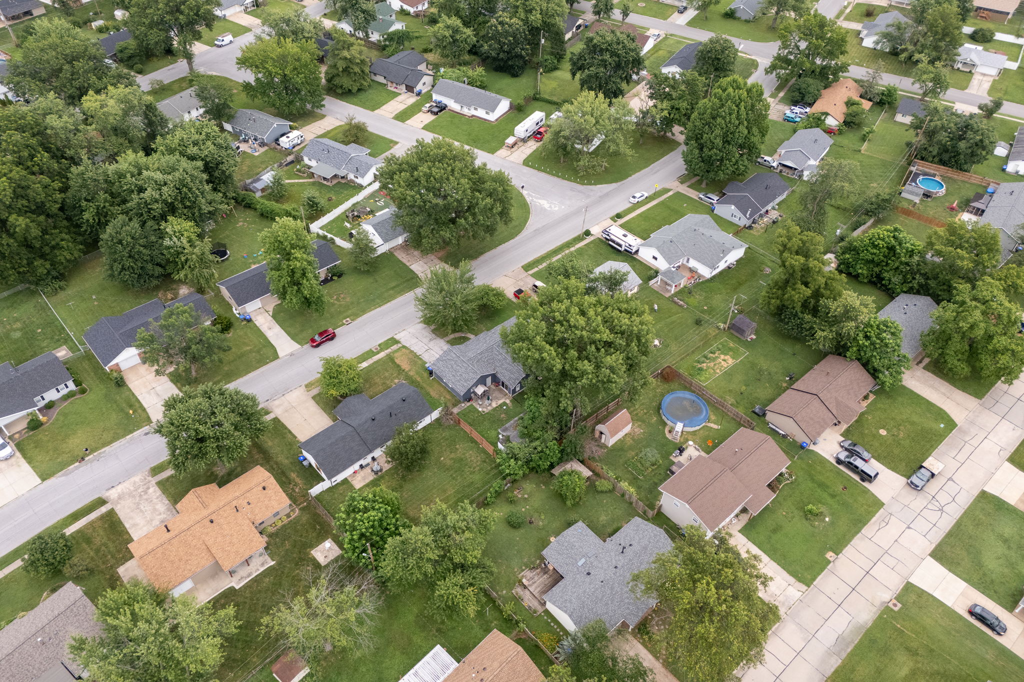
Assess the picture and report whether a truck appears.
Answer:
Yes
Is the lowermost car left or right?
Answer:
right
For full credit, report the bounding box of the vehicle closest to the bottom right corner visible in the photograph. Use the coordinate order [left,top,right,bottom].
[966,603,1009,637]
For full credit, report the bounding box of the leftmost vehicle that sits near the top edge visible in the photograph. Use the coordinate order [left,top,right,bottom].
[213,32,235,46]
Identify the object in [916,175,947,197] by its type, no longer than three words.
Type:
swimming pool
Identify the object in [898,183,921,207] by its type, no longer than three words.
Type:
shed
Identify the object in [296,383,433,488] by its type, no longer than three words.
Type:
house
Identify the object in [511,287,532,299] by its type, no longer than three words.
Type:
vehicle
